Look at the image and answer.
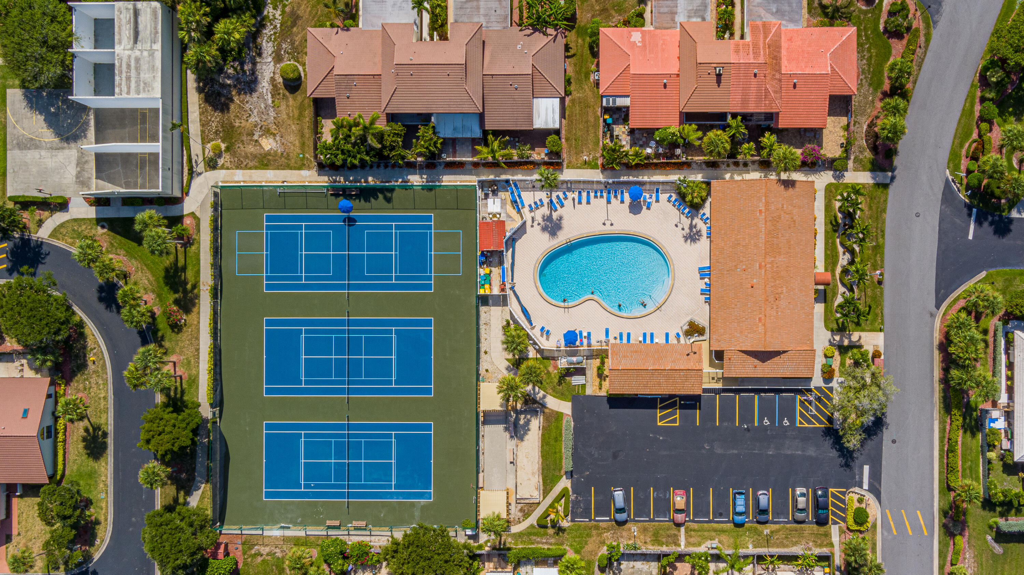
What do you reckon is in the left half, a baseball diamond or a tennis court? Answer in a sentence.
It is a tennis court that can be seen in the left half.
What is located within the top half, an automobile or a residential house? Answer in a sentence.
The feature located within the top half is a residential house.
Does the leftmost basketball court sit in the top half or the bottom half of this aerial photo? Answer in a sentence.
You can find the leftmost basketball court in the top half.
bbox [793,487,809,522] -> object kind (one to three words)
car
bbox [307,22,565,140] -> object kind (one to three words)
house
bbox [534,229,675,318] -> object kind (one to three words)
swimming pool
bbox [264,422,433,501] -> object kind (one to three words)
tennis court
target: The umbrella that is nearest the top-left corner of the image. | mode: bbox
[338,199,353,214]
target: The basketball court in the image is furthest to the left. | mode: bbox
[6,89,94,196]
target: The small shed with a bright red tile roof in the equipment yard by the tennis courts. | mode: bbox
[479,220,505,250]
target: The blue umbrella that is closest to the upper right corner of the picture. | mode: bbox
[628,186,643,201]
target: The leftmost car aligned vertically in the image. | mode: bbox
[612,488,629,524]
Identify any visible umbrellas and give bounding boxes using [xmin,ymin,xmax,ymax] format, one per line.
[628,186,643,201]
[563,330,578,345]
[338,199,353,214]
